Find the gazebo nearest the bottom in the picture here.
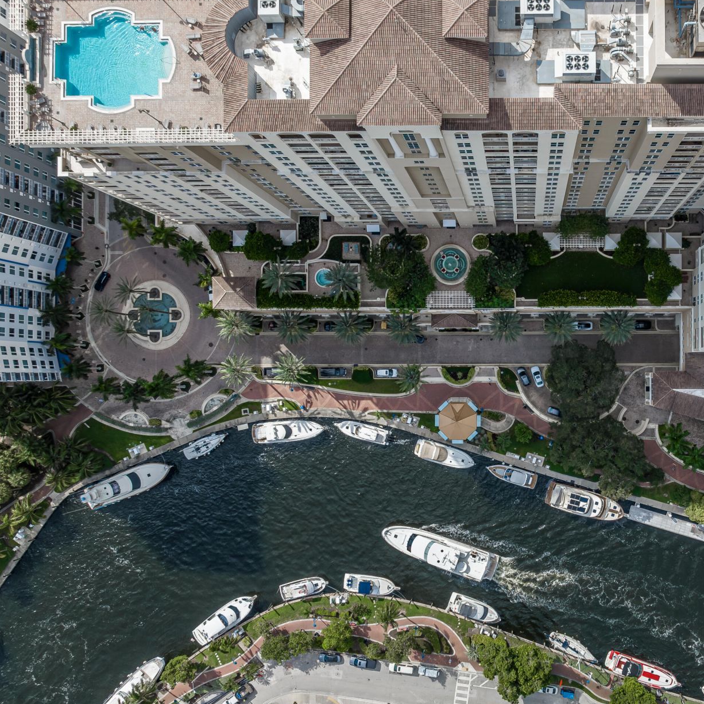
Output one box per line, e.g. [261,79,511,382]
[432,396,483,446]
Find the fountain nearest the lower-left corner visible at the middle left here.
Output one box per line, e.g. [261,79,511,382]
[118,410,147,424]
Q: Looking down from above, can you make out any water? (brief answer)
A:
Yes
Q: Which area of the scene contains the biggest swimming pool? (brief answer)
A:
top left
